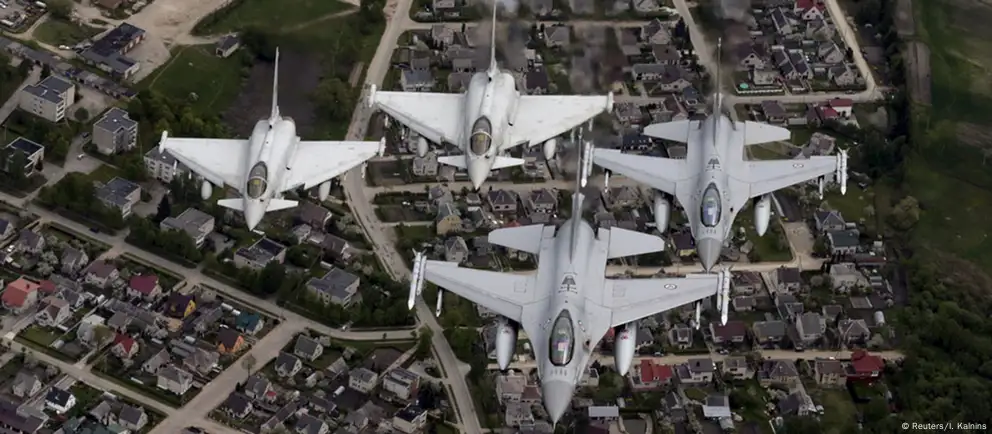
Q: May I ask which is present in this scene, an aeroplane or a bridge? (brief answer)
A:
aeroplane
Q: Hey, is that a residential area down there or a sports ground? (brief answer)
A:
residential area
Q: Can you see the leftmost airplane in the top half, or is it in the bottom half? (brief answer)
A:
top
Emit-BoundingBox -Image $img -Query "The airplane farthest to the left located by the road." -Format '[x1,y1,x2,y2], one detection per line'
[156,50,387,232]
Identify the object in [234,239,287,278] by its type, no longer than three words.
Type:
building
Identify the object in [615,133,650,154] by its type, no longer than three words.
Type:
shed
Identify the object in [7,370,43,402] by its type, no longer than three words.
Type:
house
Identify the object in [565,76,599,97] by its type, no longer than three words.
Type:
house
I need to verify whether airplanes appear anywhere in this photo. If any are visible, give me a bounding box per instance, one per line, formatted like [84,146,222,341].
[368,0,615,192]
[156,50,387,232]
[407,126,732,433]
[580,36,850,275]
